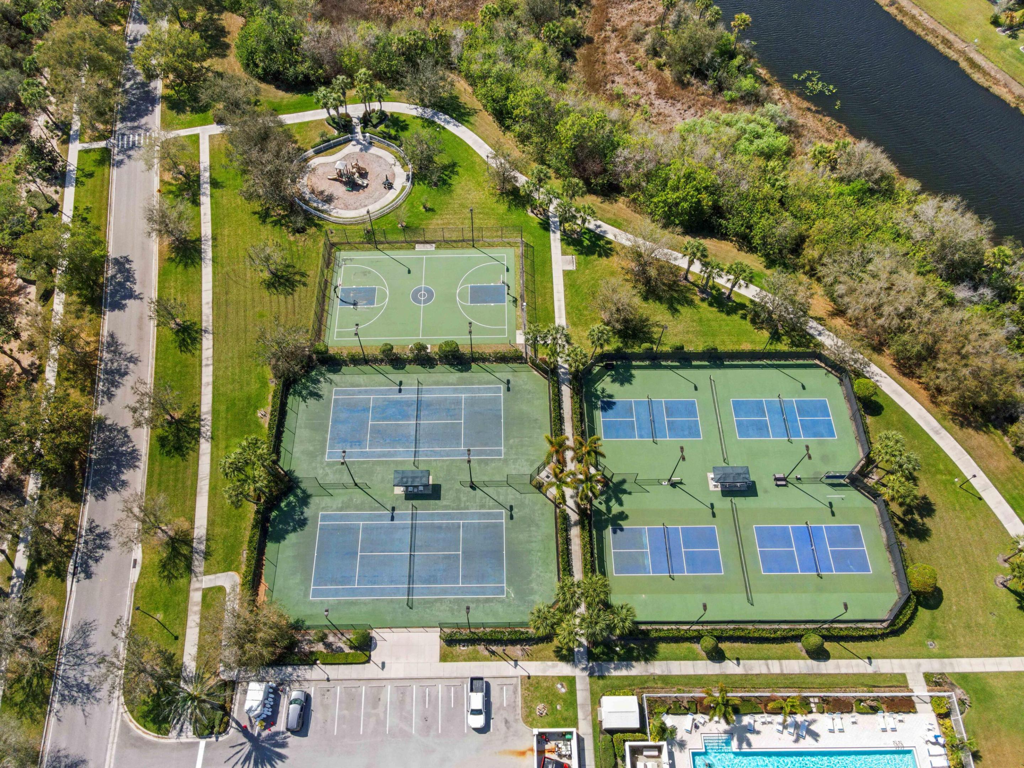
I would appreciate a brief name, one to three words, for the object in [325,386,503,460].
tennis court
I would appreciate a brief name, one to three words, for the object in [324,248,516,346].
basketball court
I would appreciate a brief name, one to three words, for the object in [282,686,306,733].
car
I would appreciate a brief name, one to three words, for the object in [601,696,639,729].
shed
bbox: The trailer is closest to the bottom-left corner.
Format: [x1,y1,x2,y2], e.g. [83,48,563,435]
[242,682,269,727]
